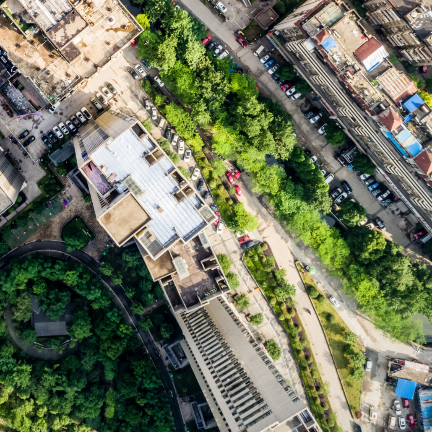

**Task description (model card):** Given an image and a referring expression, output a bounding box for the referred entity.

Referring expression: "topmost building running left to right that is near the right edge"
[382,355,432,383]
